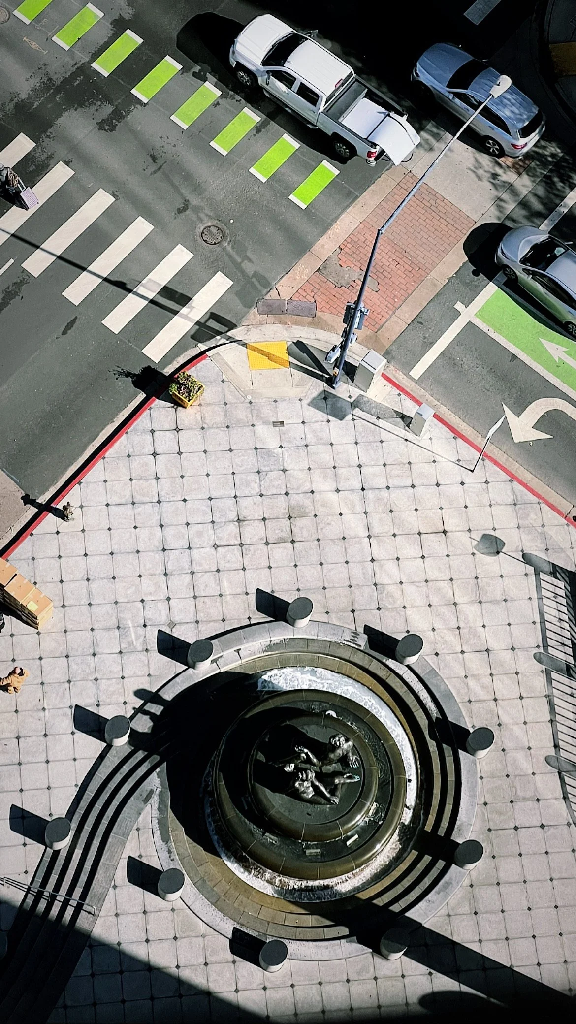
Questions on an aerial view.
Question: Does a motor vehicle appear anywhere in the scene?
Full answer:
Yes, there's a motor vehicle here.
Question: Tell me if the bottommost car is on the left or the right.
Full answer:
It is on the right.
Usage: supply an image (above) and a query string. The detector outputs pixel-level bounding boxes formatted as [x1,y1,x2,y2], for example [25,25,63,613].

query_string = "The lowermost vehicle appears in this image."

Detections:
[495,223,576,336]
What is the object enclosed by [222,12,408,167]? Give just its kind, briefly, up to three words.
truck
